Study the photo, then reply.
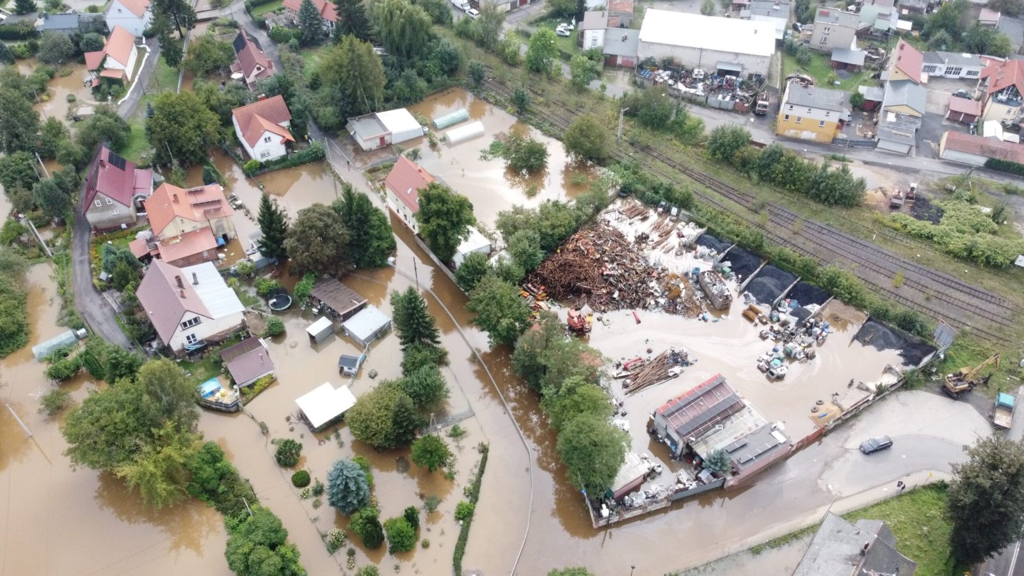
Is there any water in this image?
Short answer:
Yes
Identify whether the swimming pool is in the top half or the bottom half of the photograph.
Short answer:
bottom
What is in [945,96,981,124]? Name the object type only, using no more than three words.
building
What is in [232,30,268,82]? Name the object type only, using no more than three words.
house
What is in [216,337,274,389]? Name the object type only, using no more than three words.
shed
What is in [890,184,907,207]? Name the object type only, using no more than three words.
vehicle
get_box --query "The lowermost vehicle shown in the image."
[860,435,894,453]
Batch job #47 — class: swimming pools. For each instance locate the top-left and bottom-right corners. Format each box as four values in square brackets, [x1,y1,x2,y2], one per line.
[199,379,225,399]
